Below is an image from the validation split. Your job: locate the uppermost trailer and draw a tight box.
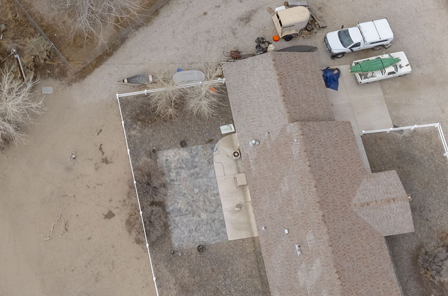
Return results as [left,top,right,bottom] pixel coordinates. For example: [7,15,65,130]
[268,8,314,37]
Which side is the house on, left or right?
right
